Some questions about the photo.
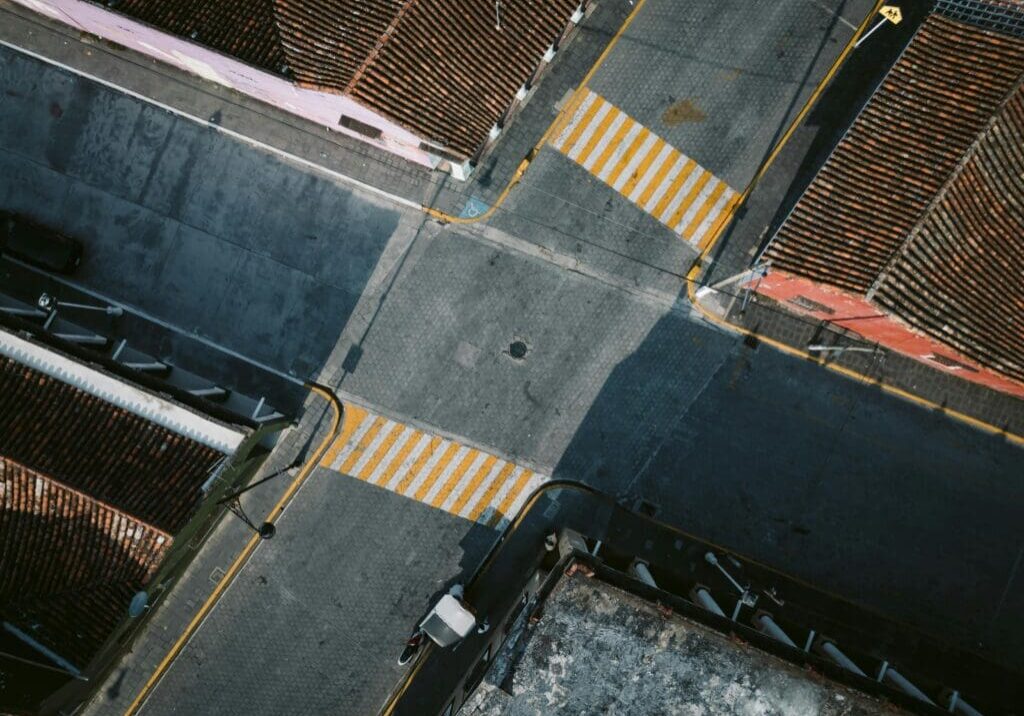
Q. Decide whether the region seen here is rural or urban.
urban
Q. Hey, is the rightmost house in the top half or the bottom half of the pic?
top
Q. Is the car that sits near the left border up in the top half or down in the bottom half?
top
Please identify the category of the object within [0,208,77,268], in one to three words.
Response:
car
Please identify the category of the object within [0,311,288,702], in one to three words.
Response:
building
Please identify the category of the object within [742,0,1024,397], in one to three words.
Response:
house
